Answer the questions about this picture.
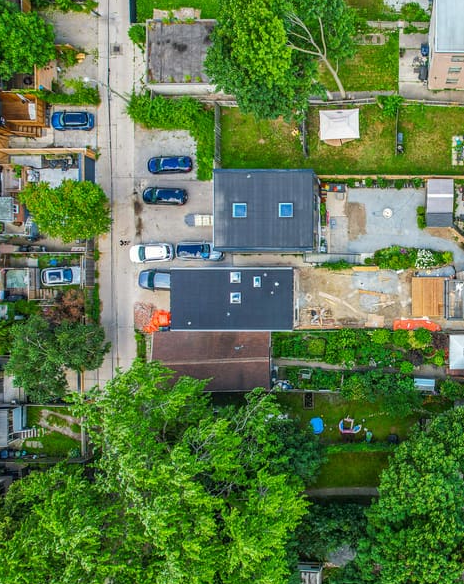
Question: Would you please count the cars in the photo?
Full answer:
In total, 7 cars can be seen.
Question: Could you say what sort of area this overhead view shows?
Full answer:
It's a residential area.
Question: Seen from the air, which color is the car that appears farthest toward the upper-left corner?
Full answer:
The color of the car that appears farthest toward the upper-left corner is blue.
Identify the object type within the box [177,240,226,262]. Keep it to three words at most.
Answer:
car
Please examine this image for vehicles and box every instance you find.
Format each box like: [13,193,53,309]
[148,153,195,176]
[177,240,226,262]
[130,240,177,263]
[41,264,77,287]
[138,269,171,291]
[52,109,96,133]
[144,184,191,207]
